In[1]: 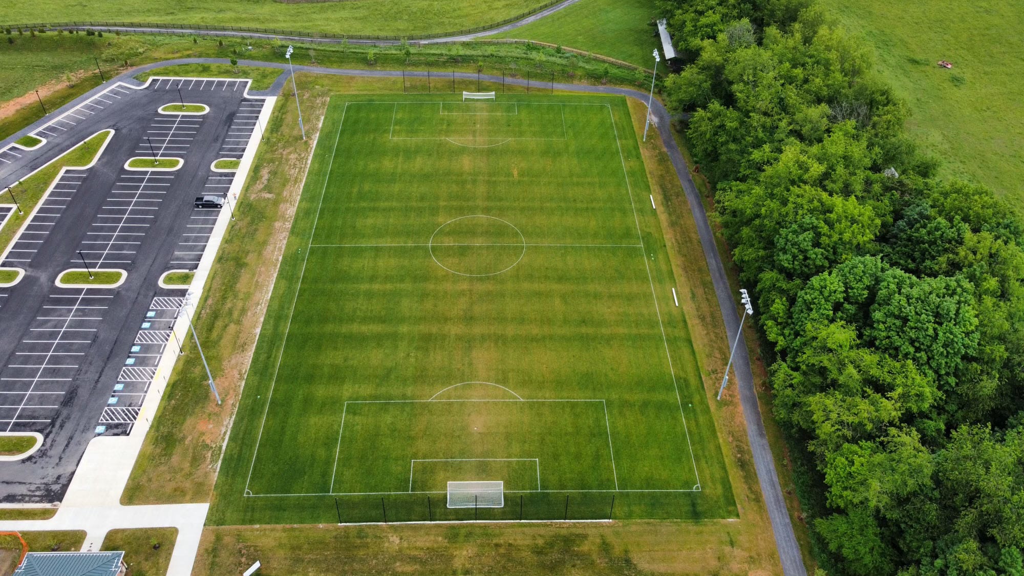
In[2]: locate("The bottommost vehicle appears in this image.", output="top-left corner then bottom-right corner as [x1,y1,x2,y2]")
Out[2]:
[193,195,226,207]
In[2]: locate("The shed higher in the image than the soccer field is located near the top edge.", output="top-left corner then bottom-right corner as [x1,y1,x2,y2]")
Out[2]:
[659,19,679,64]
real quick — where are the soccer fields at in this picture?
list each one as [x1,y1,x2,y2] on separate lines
[204,94,739,525]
